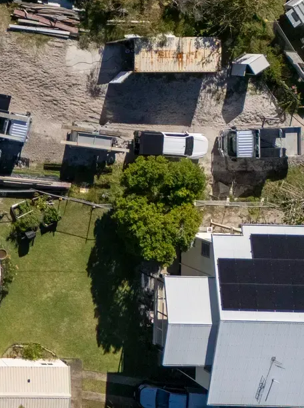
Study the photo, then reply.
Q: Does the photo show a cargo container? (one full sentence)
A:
Yes, there's a cargo container down there.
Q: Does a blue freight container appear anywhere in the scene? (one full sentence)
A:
No, I can't see a single blue freight container in this photo.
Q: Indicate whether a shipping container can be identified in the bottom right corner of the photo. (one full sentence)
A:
No, in the bottom right corner of the photo there is no shipping container.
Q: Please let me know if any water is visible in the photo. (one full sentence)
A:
No, the picture contains no water.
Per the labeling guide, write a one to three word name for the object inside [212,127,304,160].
truck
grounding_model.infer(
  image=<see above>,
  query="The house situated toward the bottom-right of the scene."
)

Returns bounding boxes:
[152,218,304,408]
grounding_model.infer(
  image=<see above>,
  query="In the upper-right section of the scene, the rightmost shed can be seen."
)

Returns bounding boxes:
[223,54,269,76]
